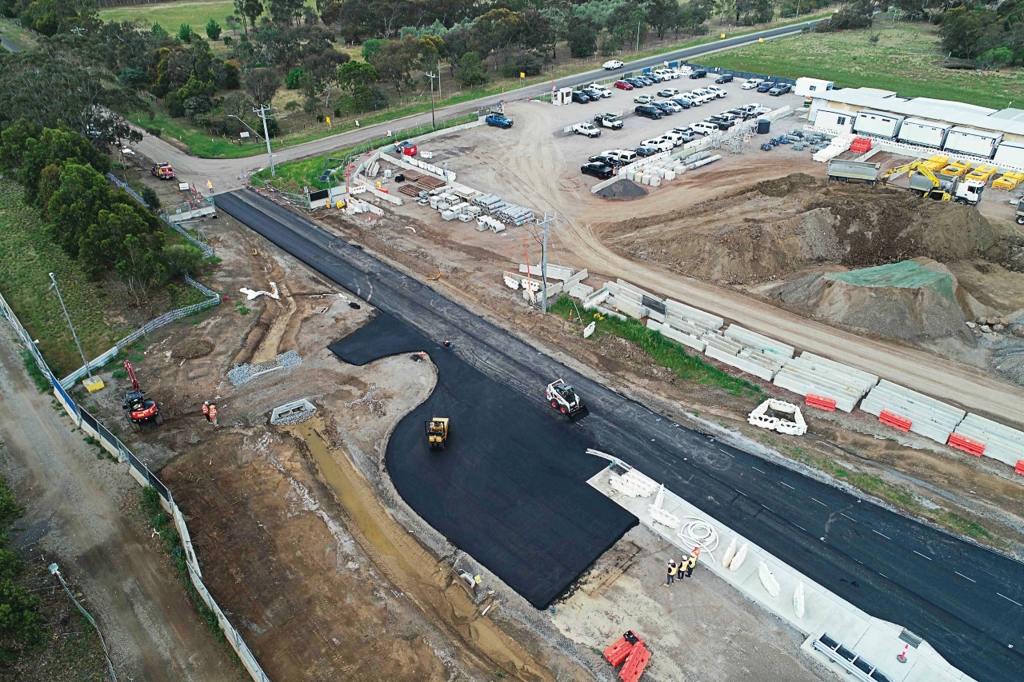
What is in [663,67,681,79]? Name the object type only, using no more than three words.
vehicle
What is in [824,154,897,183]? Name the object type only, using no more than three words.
trailer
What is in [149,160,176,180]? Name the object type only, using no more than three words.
vehicle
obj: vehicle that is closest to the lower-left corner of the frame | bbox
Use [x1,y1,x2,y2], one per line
[112,358,164,433]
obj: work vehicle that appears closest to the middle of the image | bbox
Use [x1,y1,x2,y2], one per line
[546,380,592,421]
